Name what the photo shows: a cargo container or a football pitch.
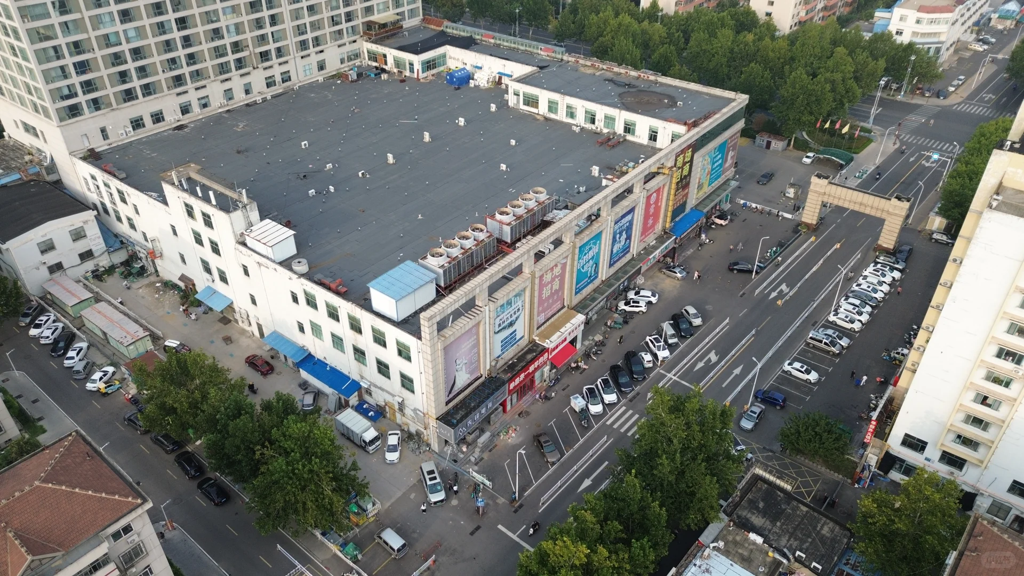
cargo container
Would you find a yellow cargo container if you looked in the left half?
No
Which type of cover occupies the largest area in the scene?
buildings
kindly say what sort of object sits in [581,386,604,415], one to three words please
car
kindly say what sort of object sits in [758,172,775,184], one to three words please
vehicle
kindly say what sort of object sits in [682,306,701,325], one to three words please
car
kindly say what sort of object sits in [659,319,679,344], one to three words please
vehicle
